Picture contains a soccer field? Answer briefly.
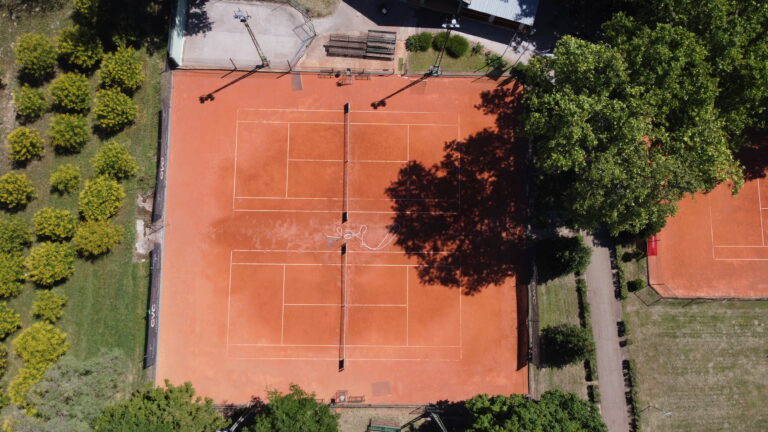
No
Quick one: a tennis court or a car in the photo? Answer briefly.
tennis court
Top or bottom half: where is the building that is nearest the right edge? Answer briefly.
top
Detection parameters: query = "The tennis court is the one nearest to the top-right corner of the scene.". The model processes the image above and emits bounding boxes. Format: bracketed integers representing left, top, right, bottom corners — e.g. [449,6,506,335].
[640,116,768,299]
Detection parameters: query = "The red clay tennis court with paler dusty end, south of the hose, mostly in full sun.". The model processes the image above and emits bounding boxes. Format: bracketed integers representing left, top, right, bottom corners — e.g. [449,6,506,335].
[154,229,530,406]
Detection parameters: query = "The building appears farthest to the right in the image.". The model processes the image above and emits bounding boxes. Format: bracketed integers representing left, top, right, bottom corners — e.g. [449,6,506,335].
[458,0,539,38]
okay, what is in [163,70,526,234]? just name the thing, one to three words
tennis court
